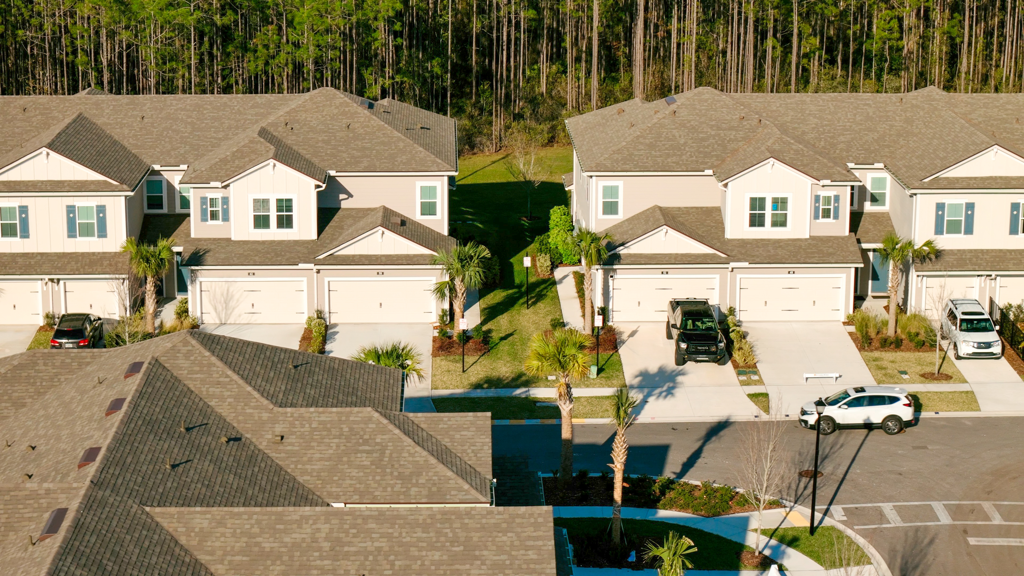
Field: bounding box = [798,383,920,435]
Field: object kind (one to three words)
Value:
car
